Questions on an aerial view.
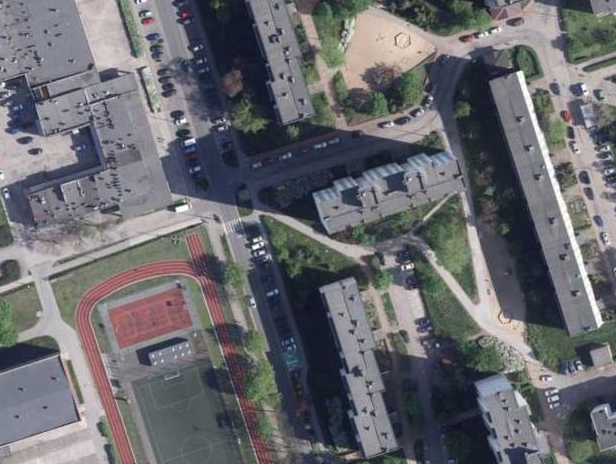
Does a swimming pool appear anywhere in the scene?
No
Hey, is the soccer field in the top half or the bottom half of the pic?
bottom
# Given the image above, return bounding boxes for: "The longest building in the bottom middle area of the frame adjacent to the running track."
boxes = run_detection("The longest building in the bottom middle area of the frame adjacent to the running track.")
[319,274,402,459]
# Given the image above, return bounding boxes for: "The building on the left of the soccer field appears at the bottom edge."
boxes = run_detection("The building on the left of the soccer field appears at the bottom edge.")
[0,352,82,444]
